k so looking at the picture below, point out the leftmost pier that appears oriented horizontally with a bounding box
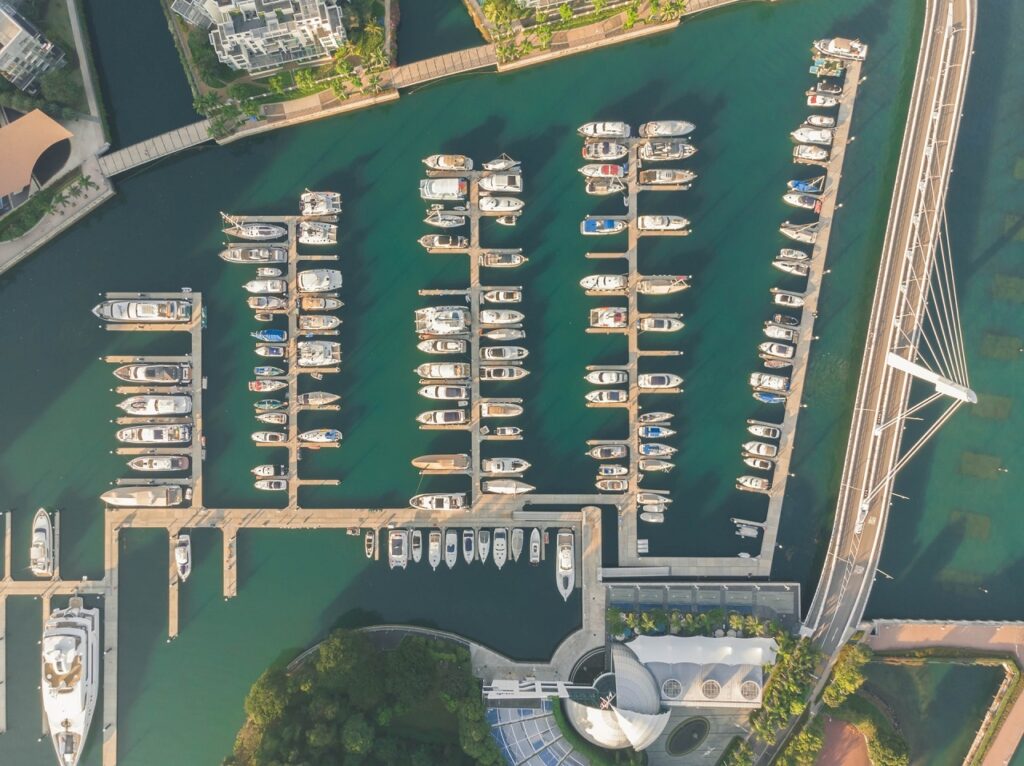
[105,493,637,766]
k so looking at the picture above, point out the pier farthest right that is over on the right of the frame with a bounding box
[730,60,862,557]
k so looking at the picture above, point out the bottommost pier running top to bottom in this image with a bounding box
[0,511,105,735]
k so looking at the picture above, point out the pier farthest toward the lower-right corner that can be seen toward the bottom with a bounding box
[603,557,773,577]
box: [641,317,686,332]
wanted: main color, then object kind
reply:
white boat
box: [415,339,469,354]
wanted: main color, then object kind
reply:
white boat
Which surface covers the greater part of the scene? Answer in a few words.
water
